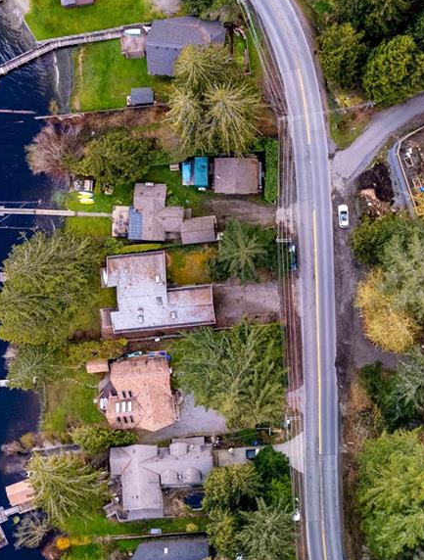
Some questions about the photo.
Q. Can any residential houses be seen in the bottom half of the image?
Yes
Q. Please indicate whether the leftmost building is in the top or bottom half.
bottom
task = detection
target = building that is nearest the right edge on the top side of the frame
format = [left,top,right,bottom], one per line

[214,155,259,197]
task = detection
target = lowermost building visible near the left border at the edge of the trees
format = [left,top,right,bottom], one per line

[6,477,37,506]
